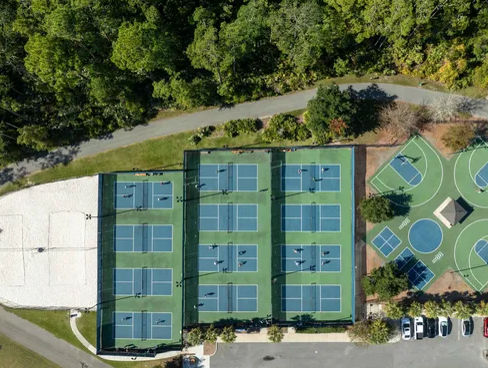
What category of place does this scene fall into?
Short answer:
sports ground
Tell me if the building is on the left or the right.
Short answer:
right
